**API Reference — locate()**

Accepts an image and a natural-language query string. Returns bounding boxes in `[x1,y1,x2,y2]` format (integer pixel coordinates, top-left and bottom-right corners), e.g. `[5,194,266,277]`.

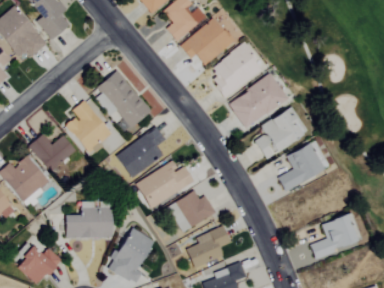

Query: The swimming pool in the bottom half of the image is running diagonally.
[38,187,58,206]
